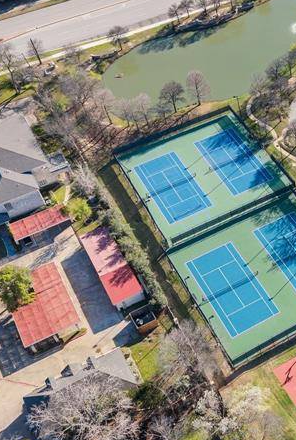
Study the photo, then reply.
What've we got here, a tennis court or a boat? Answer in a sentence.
I can see a tennis court in this picture.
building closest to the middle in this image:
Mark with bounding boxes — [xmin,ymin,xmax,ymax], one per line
[81,226,147,316]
